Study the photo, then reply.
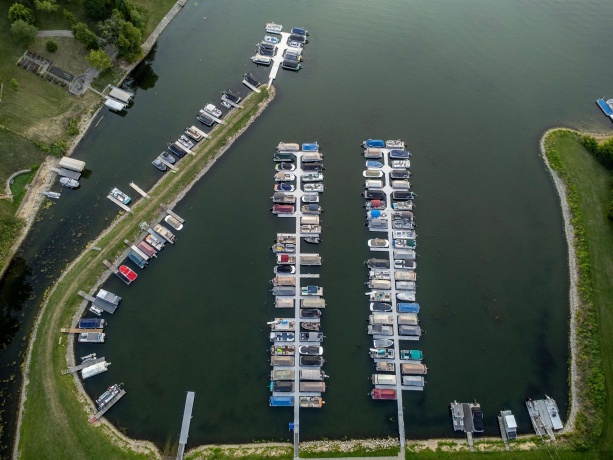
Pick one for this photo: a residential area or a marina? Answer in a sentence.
This image shows a marina.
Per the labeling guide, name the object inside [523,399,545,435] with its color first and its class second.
gray boat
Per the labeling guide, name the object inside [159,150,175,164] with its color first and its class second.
gray boat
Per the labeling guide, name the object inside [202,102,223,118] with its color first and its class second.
white boat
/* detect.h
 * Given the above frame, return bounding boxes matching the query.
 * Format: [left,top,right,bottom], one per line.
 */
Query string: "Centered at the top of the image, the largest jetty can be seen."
[266,31,302,90]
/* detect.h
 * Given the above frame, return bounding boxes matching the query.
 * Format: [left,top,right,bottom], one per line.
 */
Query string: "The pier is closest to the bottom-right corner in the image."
[536,400,556,441]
